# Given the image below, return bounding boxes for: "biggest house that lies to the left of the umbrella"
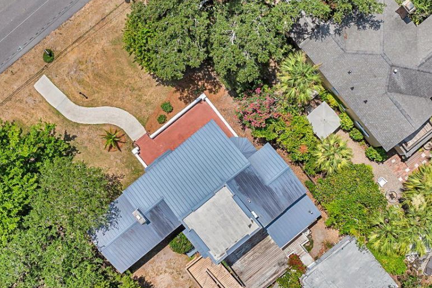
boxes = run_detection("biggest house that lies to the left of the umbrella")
[89,119,321,271]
